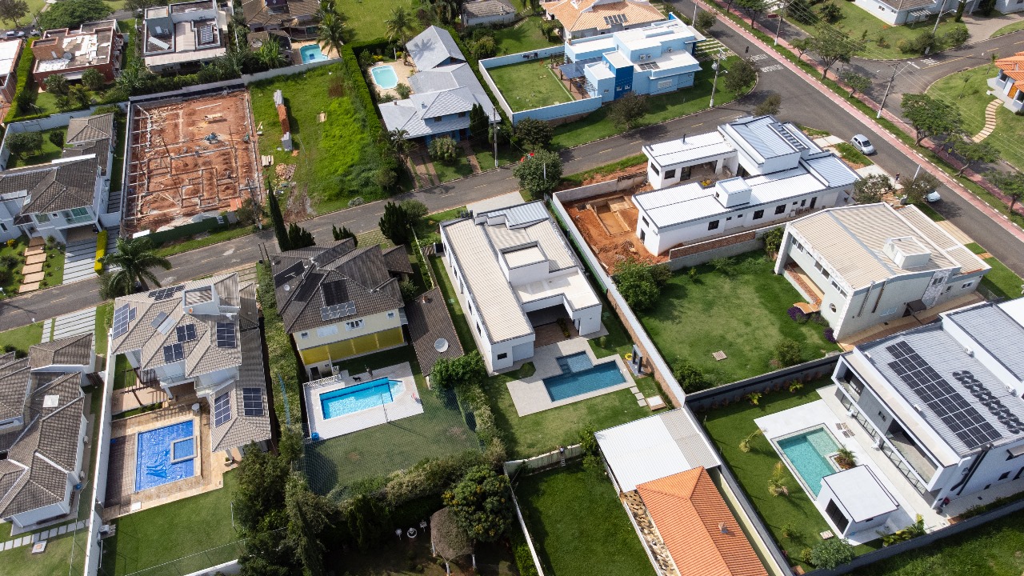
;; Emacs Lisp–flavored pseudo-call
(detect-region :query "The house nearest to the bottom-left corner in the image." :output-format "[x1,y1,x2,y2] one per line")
[0,332,104,531]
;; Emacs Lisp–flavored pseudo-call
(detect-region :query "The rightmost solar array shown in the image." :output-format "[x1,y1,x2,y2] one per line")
[885,341,1001,447]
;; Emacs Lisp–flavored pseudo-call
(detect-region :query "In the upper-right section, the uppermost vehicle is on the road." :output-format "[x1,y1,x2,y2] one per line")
[855,135,876,151]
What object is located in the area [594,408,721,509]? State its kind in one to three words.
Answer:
shed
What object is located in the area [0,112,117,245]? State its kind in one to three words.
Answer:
house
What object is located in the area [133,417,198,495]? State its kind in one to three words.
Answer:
swimming pool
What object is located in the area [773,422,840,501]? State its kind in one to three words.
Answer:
swimming pool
